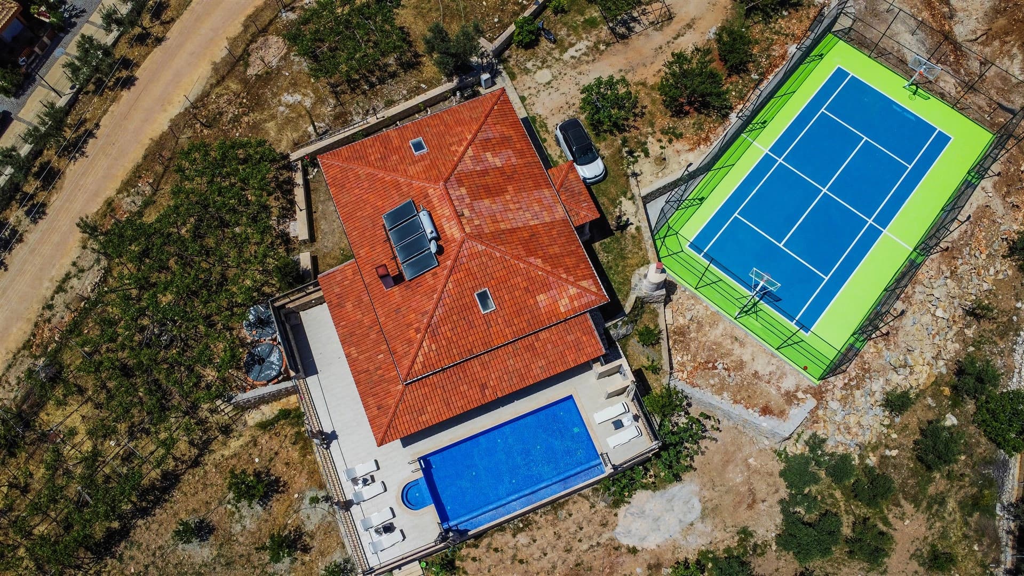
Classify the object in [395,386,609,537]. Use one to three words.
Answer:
swimming pool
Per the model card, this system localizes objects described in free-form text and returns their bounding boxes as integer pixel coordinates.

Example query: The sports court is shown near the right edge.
[654,32,995,386]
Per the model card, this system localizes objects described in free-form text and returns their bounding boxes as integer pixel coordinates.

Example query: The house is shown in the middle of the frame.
[316,86,608,447]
